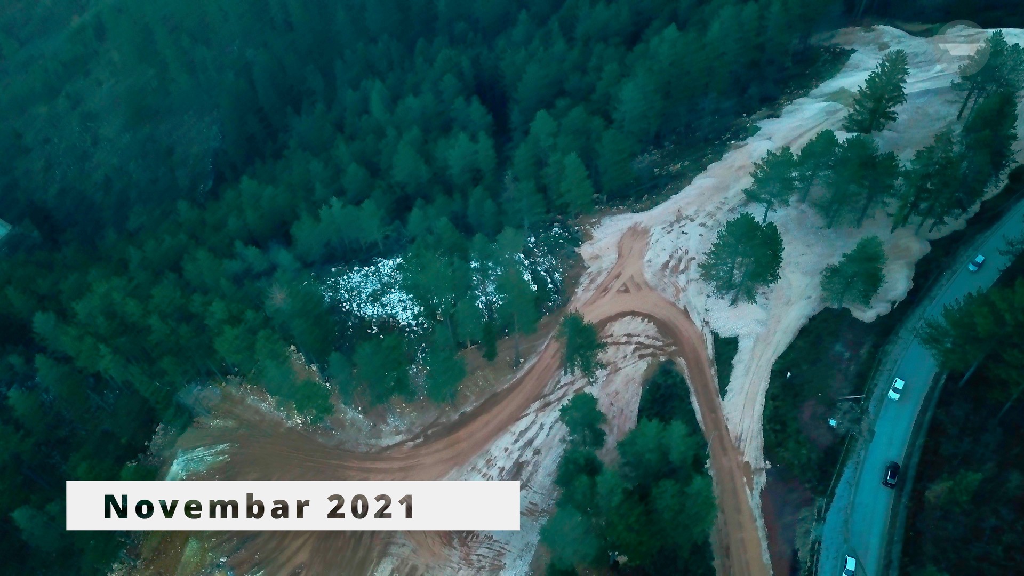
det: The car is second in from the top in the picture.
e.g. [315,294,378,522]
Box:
[885,376,907,402]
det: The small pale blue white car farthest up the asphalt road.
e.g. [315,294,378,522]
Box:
[965,253,988,274]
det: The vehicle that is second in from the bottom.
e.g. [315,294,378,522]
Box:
[881,459,902,491]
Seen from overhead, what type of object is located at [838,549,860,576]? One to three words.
car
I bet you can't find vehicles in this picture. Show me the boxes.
[965,253,988,274]
[885,376,907,402]
[881,459,902,491]
[838,549,860,576]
